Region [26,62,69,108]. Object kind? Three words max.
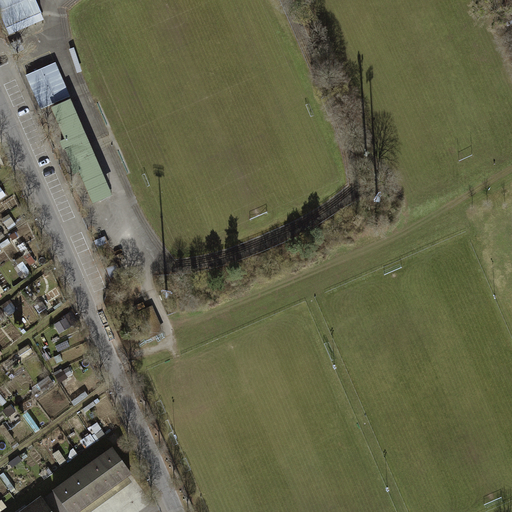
building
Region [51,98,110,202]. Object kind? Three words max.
building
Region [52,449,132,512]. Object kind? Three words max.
barn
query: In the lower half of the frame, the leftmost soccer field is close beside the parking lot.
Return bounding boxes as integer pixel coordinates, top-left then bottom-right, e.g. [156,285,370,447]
[150,302,394,512]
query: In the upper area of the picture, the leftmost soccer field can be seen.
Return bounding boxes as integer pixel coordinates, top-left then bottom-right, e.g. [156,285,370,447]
[68,0,349,260]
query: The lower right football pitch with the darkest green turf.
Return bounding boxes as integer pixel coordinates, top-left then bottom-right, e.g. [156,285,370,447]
[317,232,512,512]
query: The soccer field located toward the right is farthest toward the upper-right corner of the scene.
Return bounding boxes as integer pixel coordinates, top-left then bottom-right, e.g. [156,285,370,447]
[326,0,512,208]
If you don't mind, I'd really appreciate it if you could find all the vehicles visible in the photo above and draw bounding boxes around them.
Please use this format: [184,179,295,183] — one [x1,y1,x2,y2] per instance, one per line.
[18,108,29,116]
[38,158,50,166]
[43,168,54,175]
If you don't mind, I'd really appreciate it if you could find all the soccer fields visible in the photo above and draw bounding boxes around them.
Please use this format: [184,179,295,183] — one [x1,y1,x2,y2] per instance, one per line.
[68,0,349,260]
[150,302,394,512]
[317,232,512,512]
[326,0,512,208]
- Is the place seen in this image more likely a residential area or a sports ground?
sports ground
